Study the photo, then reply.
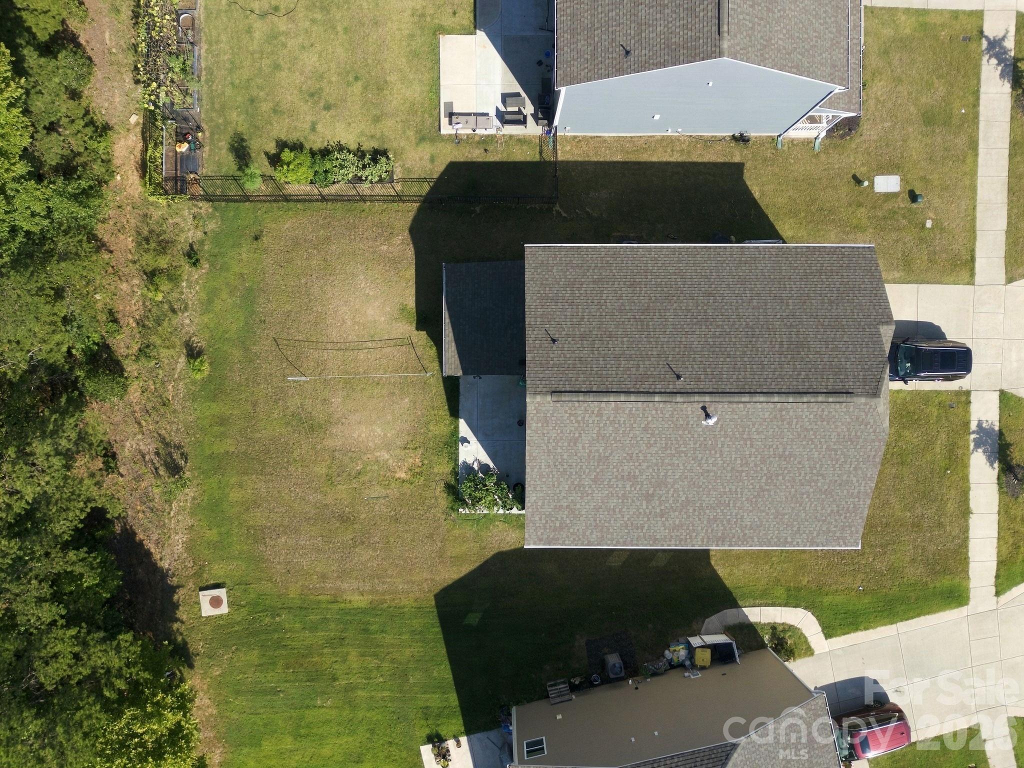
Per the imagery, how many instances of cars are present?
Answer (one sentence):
The number of cars here is 2.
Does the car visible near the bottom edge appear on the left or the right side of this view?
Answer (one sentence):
The car visible near the bottom edge sits on the right side.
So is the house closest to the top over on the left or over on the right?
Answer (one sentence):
You can find the house closest to the top on the right side of the picture.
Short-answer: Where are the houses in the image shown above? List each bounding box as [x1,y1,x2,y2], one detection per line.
[524,242,895,550]
[505,647,844,768]
[553,0,864,138]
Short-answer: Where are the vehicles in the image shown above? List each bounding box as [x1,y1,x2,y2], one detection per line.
[833,702,912,765]
[887,336,973,385]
